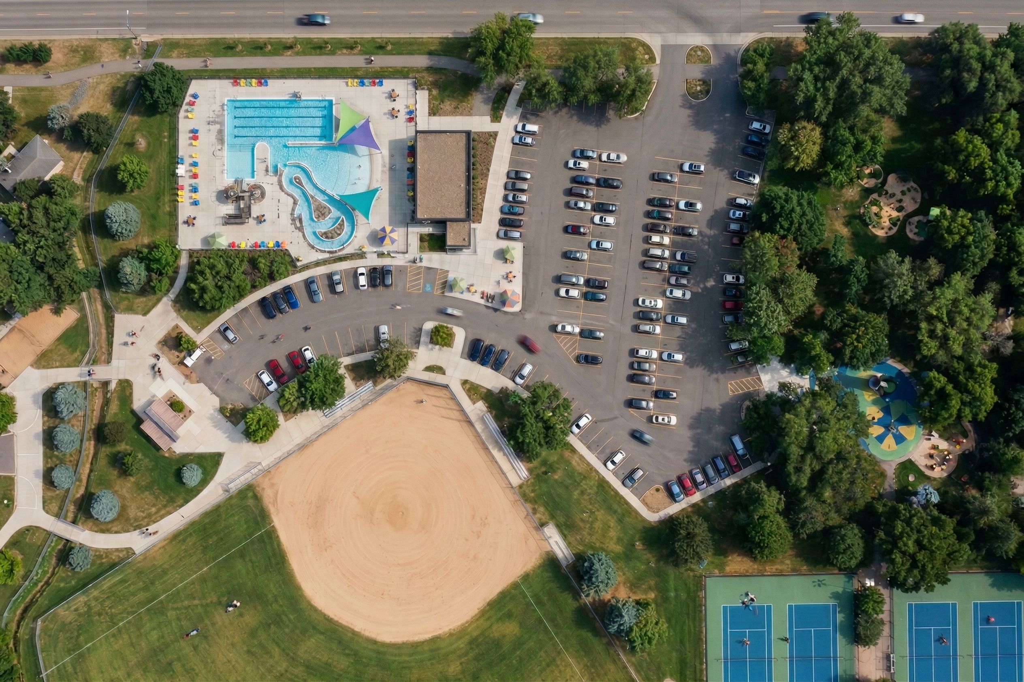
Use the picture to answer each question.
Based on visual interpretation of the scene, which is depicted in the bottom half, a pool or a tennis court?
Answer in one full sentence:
Visible in the bottom half is a tennis court.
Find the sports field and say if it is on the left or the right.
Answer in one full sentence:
It is on the left.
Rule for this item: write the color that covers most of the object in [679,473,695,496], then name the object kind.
red car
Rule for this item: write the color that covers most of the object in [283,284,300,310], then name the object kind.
blue vehicle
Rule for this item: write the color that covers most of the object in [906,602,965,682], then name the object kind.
blue tennis court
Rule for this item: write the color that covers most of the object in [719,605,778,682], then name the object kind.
blue tennis court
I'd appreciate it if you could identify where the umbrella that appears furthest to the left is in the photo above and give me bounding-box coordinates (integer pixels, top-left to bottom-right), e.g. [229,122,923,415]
[207,231,225,249]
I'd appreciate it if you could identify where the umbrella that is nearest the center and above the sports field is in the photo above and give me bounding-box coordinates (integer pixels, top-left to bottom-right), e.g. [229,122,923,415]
[500,288,520,309]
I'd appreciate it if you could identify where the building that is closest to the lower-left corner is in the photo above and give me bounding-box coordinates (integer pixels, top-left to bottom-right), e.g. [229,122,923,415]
[140,398,184,451]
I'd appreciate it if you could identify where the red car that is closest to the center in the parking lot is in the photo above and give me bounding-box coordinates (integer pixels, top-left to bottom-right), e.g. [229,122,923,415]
[517,333,538,350]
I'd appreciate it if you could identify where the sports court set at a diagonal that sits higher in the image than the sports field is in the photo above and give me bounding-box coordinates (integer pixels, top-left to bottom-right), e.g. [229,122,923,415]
[0,297,80,388]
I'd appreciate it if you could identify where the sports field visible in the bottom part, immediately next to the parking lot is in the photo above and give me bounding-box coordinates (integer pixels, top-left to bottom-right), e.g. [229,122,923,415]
[37,379,637,682]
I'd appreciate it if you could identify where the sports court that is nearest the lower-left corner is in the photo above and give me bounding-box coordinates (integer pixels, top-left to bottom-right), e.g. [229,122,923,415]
[17,410,41,509]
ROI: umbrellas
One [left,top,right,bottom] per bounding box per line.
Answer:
[500,288,520,309]
[207,231,225,249]
[451,276,466,293]
[378,226,397,245]
[501,246,517,260]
